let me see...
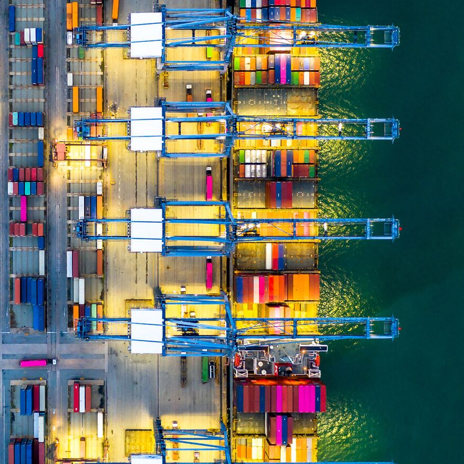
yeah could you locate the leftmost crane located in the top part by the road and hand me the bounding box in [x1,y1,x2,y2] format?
[51,138,110,170]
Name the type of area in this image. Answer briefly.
port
